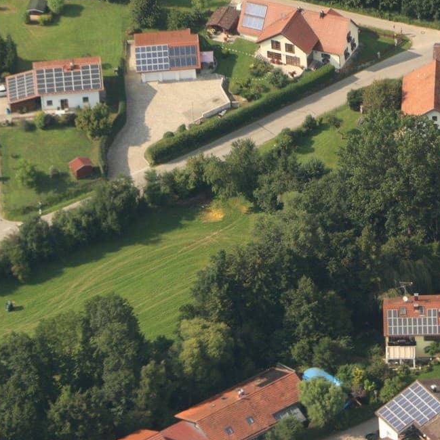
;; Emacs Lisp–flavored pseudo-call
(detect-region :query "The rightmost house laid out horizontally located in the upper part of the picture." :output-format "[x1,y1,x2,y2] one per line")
[237,0,360,69]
